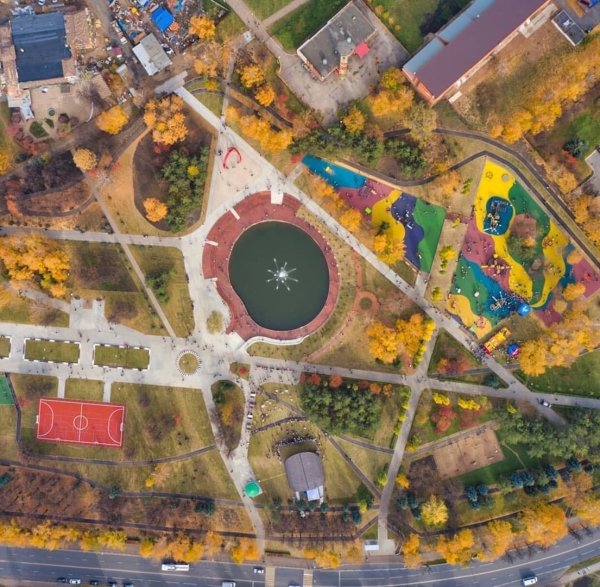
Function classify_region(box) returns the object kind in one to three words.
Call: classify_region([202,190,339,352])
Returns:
pond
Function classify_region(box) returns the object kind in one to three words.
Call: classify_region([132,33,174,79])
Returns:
shed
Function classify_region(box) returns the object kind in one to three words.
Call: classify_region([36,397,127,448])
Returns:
sports court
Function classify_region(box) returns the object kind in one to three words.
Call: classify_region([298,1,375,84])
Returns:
building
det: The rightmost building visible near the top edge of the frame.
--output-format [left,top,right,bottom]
[551,10,585,48]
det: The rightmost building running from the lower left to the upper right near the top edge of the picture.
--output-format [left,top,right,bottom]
[400,0,553,103]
